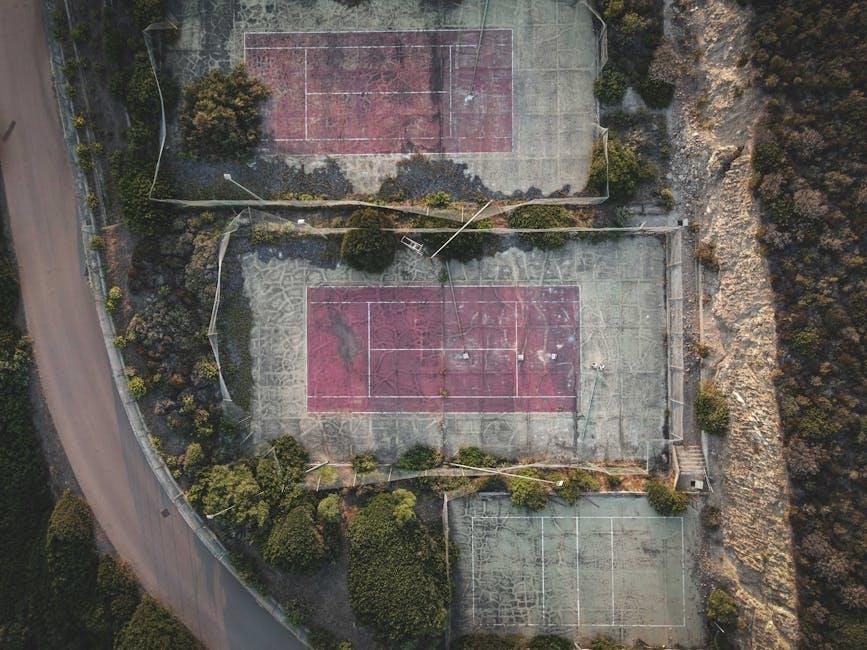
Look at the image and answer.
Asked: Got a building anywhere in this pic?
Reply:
No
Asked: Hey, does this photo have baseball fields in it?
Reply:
No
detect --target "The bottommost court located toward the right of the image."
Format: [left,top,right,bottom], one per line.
[450,492,703,650]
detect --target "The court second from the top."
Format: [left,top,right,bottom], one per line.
[218,231,667,468]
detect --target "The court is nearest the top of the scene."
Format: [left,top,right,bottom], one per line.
[160,0,601,201]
